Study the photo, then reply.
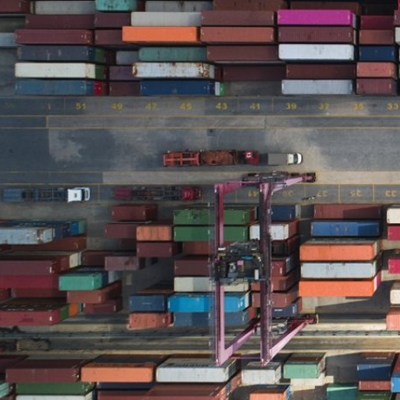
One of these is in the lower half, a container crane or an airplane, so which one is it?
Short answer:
container crane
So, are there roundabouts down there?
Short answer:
No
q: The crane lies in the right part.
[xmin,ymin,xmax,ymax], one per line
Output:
[210,166,314,366]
